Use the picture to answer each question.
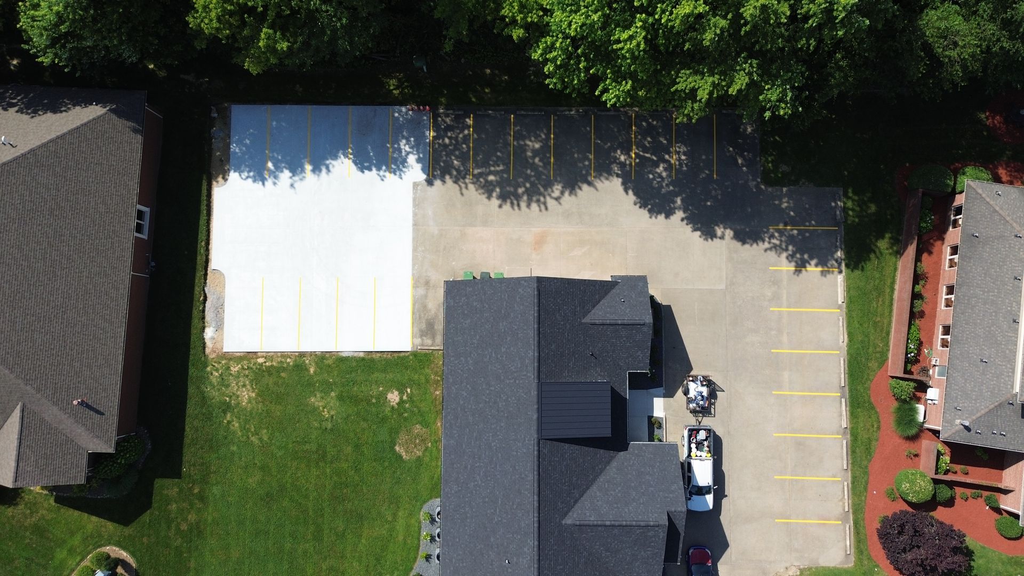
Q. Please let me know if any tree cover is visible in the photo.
Yes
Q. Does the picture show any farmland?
No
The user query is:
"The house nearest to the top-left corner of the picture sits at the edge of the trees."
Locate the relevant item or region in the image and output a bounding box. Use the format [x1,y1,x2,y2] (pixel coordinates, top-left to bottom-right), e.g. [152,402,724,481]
[0,83,162,487]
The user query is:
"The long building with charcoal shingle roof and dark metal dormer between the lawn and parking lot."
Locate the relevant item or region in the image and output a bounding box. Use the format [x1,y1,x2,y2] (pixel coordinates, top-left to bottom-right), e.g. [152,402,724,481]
[439,274,686,576]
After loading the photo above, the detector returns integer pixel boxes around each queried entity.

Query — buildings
[924,179,1024,526]
[0,83,162,487]
[439,274,686,576]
